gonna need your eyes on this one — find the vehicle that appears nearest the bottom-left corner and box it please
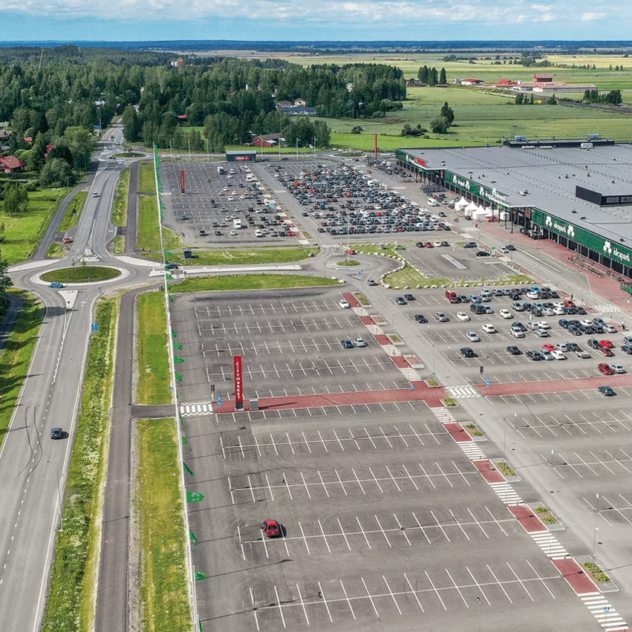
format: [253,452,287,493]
[51,428,64,441]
